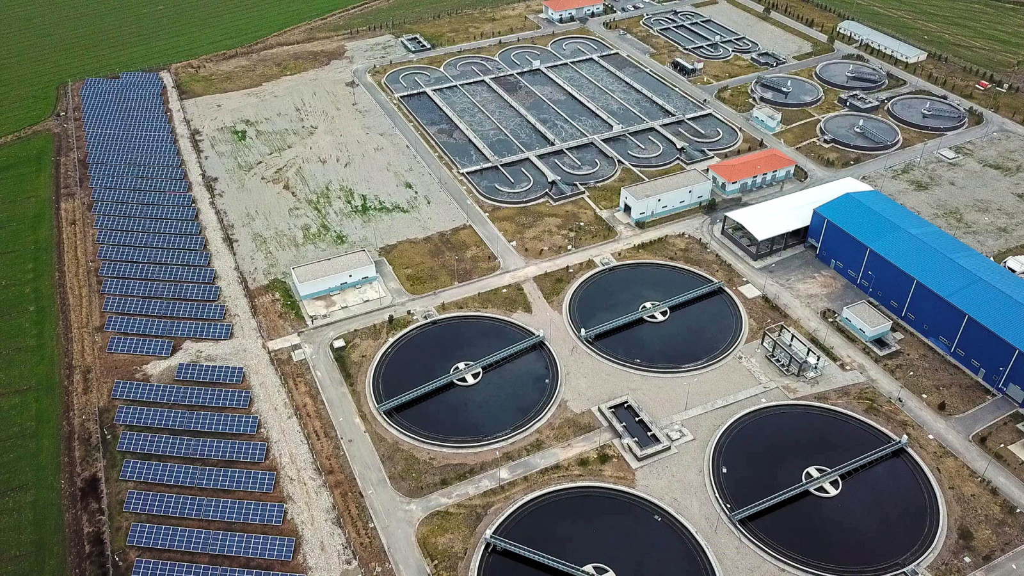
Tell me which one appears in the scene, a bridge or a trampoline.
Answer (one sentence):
The image shows a bridge.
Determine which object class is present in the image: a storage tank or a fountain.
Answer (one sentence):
Of the two, only a storage tank appears.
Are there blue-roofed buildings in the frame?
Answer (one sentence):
Yes, there's a blue-roofed building down there.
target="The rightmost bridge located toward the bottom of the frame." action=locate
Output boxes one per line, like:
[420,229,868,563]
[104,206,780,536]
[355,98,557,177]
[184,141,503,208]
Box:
[728,437,910,526]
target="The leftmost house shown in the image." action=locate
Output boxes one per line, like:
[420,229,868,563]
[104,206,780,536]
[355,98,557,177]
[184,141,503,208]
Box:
[289,247,377,299]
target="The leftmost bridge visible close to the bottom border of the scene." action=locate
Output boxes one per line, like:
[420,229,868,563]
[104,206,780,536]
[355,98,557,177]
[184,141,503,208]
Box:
[477,539,602,576]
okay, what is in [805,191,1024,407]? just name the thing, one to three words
building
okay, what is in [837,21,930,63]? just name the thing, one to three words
building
